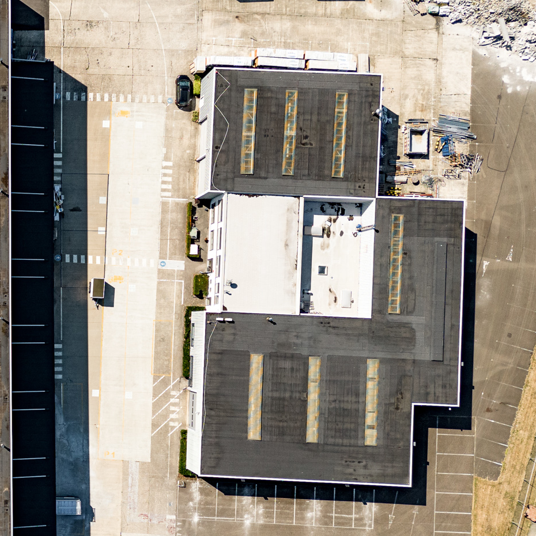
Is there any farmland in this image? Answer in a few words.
No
